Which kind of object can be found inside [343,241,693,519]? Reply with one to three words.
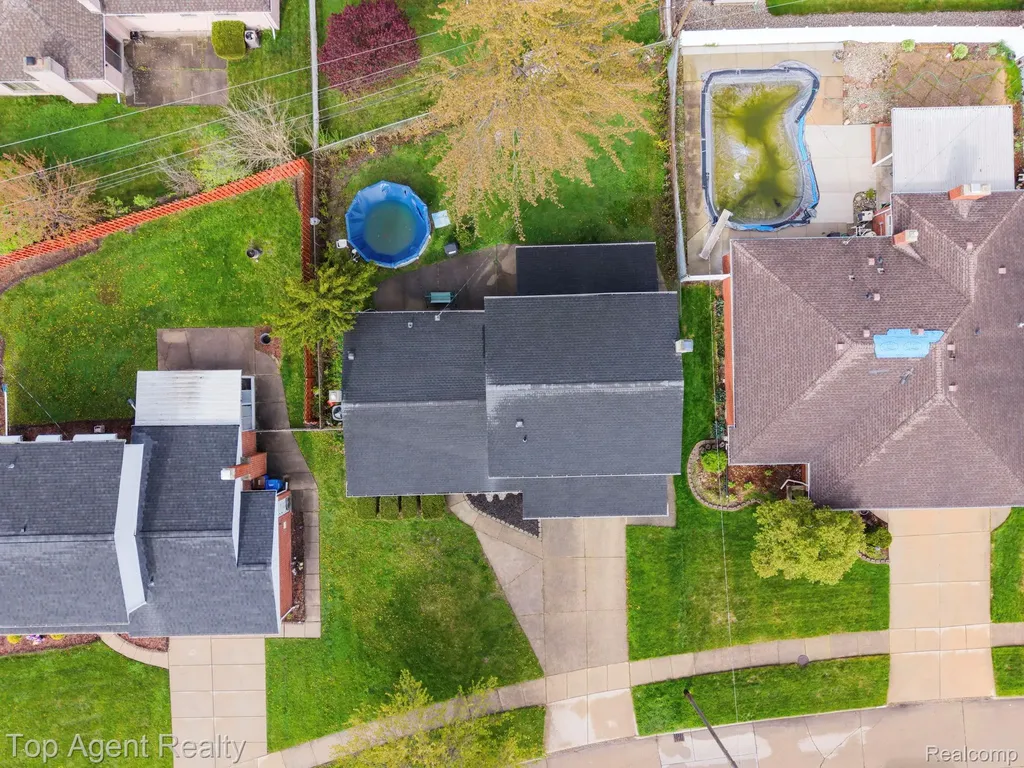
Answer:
house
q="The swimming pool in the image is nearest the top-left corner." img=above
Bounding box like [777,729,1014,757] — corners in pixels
[344,178,434,272]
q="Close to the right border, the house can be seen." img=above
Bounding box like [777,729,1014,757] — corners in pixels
[718,104,1024,510]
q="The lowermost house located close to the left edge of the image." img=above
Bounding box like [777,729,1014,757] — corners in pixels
[0,370,300,637]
